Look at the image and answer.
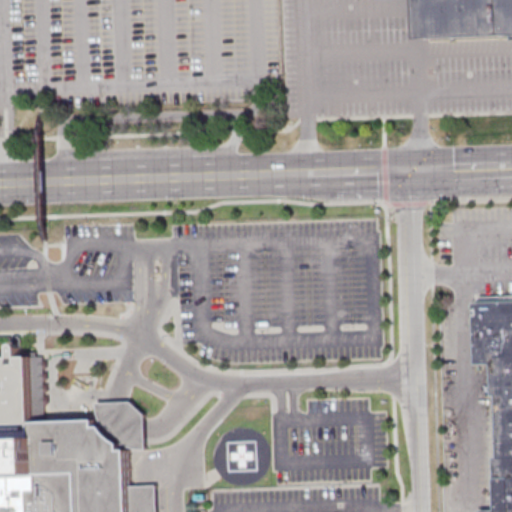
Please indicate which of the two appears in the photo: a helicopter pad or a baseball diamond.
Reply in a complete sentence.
Of the two, only a helicopter pad appears.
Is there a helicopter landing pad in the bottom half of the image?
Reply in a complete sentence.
Yes, a helicopter landing pad appears in the bottom half of the image.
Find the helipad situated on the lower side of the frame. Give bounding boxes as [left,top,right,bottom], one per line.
[214,428,270,484]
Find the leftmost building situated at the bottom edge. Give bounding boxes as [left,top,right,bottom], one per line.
[0,334,161,512]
